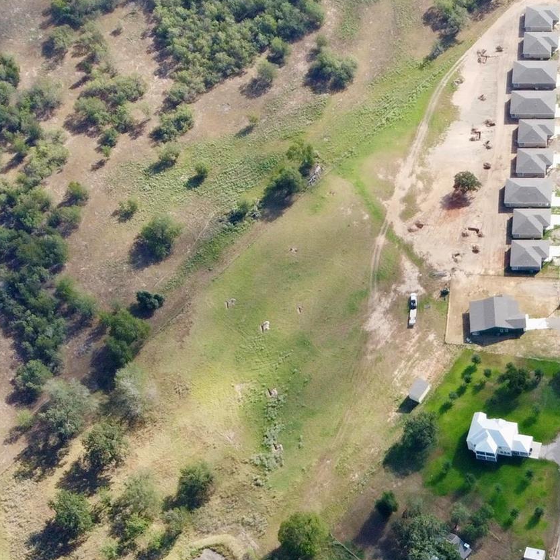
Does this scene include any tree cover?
Yes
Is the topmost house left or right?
right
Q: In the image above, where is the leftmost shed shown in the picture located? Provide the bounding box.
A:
[407,379,430,402]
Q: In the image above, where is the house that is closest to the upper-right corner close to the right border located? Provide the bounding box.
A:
[525,7,559,32]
